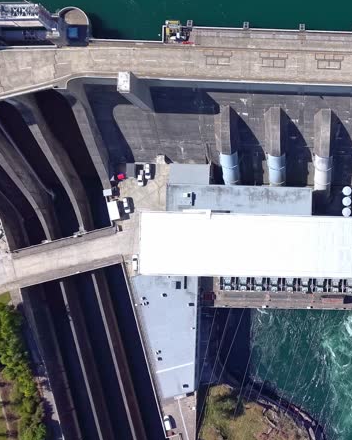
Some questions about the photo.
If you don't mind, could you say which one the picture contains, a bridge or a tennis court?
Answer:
bridge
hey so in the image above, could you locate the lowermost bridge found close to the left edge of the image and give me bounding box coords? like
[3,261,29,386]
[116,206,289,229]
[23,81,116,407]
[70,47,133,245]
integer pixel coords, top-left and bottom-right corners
[11,225,125,289]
